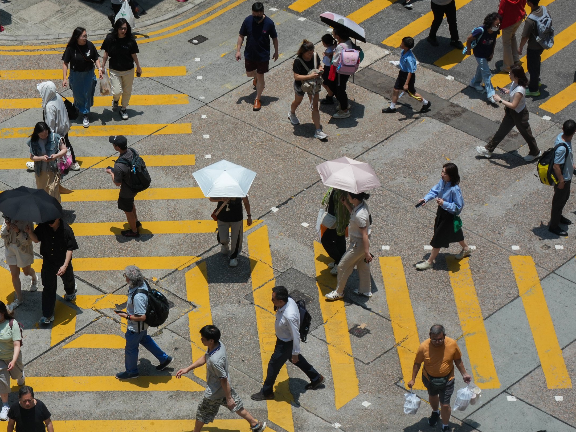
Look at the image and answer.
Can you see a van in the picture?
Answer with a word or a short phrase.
No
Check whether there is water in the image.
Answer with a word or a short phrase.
No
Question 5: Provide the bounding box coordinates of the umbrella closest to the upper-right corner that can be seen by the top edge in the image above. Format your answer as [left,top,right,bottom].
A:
[316,21,374,44]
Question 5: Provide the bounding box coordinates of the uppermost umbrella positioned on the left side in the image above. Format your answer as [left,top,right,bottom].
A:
[191,159,257,195]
